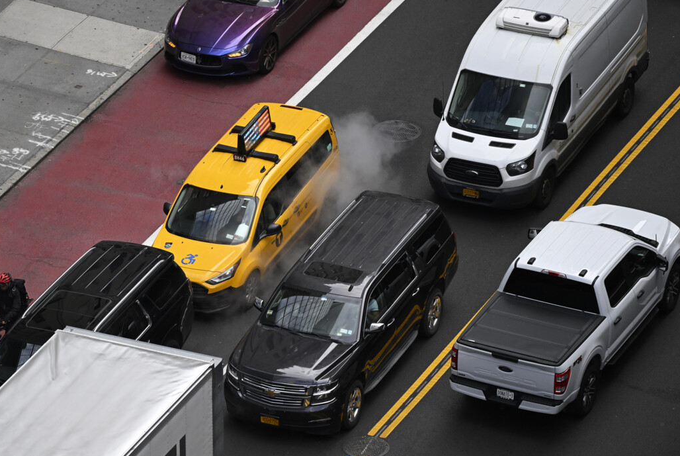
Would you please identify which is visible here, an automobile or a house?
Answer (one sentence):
I can see an automobile in this picture.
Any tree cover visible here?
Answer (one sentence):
No, tree cover can't be seen anywhere here.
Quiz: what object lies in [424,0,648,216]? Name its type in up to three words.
van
